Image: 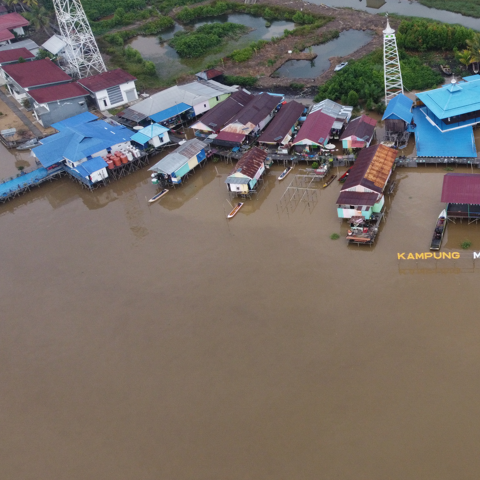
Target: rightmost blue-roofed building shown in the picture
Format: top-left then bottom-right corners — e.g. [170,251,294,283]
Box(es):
[415,65,480,135]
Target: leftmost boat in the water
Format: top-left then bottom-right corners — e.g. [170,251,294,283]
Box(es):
[147,190,170,203]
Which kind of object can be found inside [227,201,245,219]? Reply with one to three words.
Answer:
boat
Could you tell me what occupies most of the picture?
water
